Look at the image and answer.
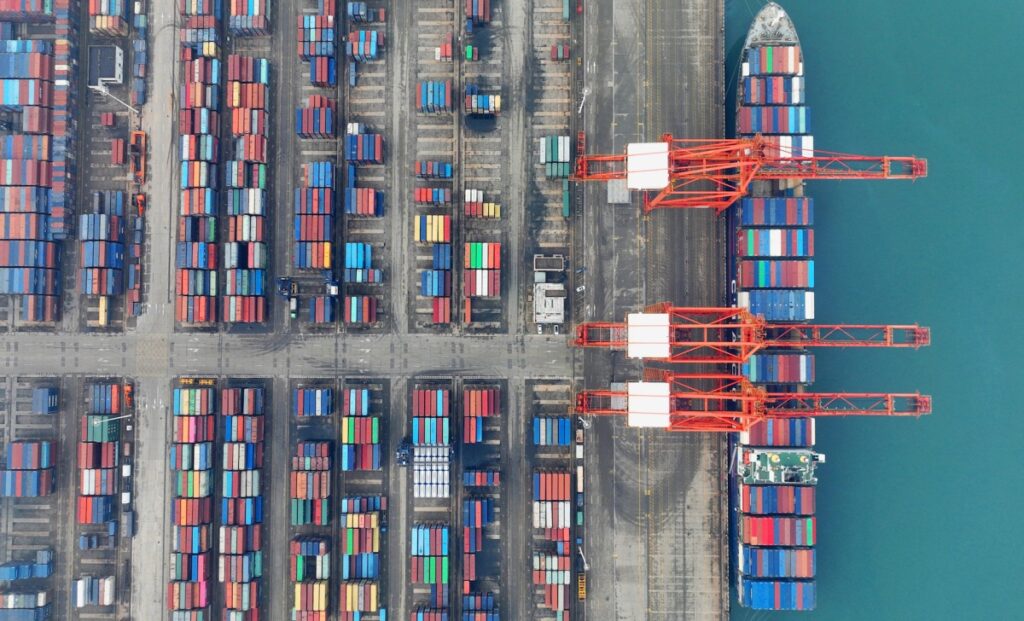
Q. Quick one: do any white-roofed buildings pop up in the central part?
Yes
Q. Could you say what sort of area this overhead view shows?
port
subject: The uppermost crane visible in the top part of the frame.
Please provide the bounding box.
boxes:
[571,130,925,221]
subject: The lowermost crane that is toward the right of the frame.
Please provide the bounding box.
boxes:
[572,362,930,432]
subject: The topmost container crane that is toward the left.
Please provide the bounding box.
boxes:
[269,271,347,299]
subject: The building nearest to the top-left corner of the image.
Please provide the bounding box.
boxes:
[87,44,123,102]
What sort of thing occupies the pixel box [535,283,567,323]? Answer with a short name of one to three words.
building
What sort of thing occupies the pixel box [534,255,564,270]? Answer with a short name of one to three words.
building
